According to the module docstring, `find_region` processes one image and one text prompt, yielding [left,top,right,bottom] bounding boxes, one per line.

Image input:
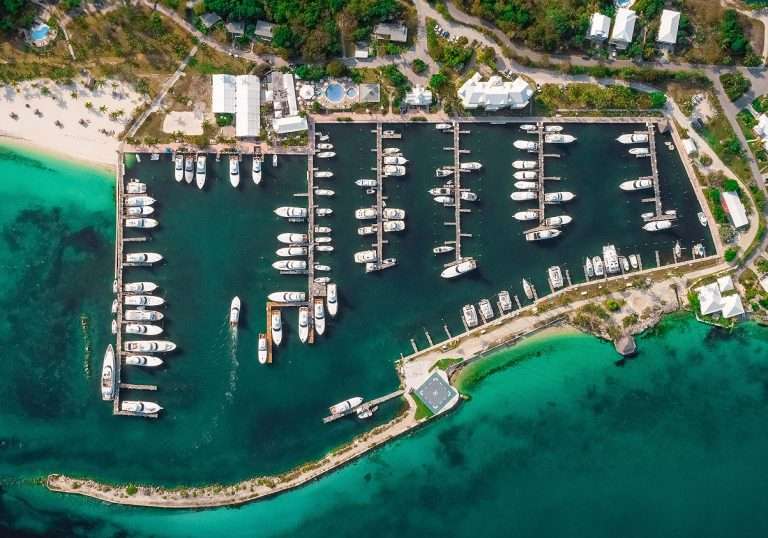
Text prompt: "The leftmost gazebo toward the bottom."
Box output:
[613,335,636,356]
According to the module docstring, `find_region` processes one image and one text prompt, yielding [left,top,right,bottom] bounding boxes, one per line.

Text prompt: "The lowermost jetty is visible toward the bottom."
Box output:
[323,389,406,422]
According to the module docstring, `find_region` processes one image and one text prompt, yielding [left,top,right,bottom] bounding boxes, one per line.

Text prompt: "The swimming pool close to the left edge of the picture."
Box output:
[30,26,50,41]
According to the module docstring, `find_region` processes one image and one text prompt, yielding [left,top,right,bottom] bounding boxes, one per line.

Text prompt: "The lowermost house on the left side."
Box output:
[273,116,308,134]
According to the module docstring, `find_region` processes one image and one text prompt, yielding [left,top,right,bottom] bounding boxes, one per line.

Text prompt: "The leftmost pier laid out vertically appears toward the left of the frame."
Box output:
[113,152,158,418]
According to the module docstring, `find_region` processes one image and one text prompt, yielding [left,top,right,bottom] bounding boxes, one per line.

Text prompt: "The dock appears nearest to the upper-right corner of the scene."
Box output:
[634,122,676,222]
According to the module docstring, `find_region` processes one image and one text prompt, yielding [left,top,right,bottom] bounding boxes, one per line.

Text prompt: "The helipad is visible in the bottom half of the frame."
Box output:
[416,372,456,413]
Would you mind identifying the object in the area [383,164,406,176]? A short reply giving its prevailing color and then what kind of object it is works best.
white boat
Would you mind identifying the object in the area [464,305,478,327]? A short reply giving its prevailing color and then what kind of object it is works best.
white boat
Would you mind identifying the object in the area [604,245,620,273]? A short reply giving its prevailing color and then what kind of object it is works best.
white ship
